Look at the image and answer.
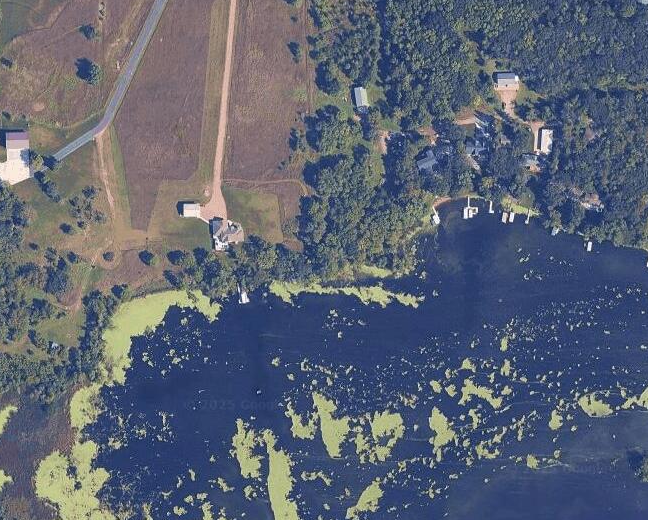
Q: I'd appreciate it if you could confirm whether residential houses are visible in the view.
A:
Yes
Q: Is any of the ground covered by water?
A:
Yes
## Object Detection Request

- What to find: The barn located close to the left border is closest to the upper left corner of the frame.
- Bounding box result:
[6,132,29,149]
